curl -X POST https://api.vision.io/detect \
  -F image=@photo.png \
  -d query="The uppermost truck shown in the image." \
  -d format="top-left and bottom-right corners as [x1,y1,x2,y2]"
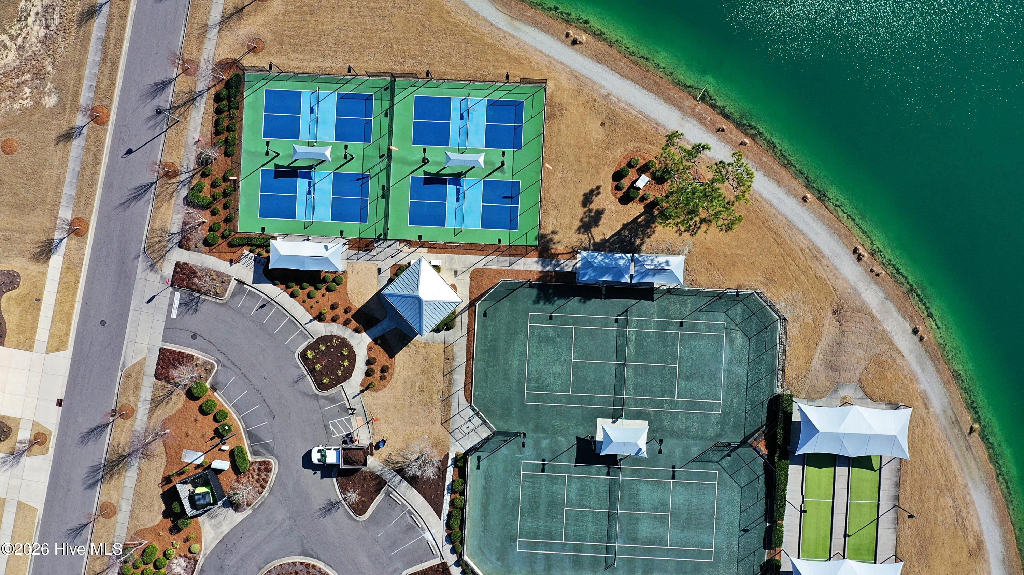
[313,443,371,468]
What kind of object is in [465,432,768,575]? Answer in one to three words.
tennis court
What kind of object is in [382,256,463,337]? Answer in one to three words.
gazebo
